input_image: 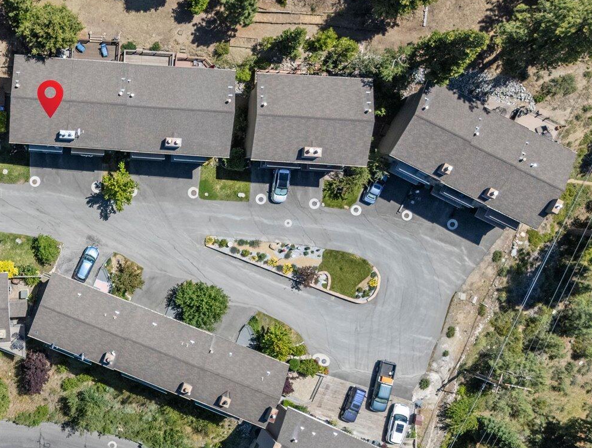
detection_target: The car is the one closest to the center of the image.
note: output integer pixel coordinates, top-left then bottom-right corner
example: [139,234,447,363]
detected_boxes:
[272,170,289,204]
